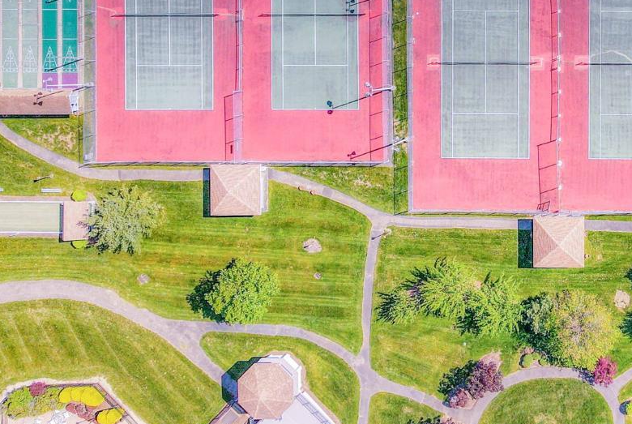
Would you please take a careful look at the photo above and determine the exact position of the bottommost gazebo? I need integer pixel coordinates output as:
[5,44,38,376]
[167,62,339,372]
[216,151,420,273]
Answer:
[239,354,299,418]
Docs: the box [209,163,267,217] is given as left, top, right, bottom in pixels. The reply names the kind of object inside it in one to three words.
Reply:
building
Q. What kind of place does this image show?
sports ground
